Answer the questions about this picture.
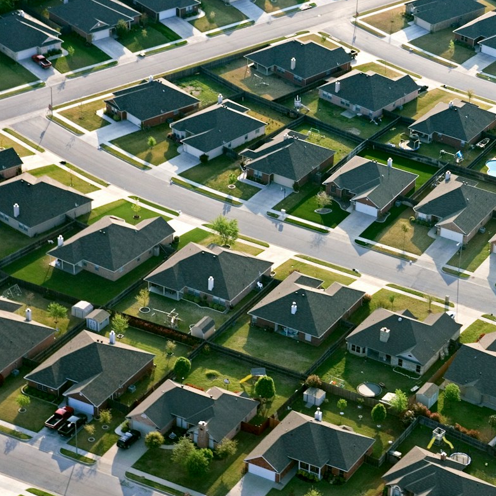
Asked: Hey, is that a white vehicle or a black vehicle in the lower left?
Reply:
black vehicle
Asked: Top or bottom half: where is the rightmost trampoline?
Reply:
bottom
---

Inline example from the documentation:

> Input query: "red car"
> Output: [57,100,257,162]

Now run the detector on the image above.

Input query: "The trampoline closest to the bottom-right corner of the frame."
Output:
[448,445,475,466]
